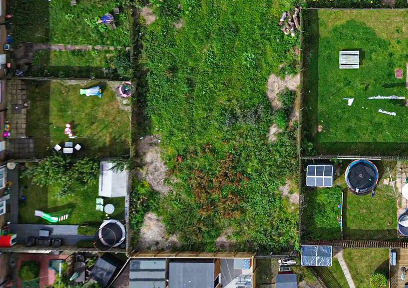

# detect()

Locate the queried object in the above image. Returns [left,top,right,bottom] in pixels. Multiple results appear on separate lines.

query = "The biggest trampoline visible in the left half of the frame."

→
[91,218,128,254]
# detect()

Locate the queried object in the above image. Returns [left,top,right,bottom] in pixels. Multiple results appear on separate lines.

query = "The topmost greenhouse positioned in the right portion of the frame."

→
[306,162,334,187]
